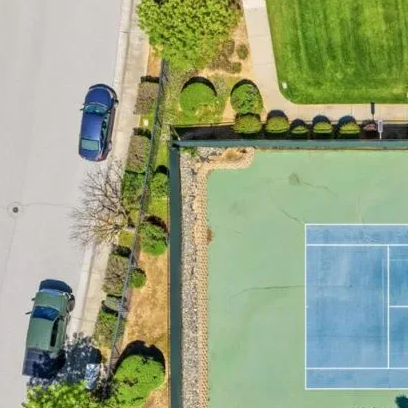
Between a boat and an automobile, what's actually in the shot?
automobile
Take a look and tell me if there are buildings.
No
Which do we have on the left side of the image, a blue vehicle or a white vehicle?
blue vehicle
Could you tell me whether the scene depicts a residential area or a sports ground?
sports ground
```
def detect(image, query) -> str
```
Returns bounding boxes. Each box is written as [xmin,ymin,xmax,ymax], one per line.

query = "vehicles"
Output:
[25,285,75,383]
[78,87,118,163]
